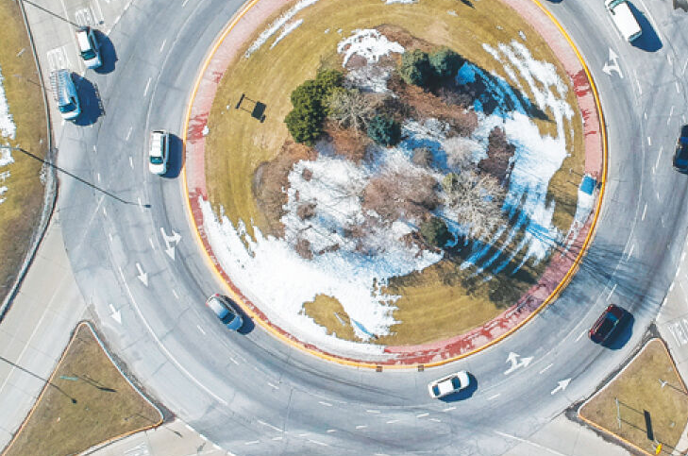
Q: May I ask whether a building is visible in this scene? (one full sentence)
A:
No, there isn't any building down there.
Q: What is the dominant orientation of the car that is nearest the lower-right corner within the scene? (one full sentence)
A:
The car that is nearest the lower-right corner has been laid out on a diagonal relative to the frame.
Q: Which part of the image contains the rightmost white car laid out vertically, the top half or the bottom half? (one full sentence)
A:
It is in the top half that the rightmost white car laid out vertically appears.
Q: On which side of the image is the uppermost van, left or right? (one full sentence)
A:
The uppermost van is on the right side of the image.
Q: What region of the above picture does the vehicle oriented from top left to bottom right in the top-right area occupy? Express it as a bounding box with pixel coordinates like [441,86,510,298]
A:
[606,0,643,42]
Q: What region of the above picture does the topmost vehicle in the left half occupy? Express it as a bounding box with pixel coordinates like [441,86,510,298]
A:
[73,24,102,70]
